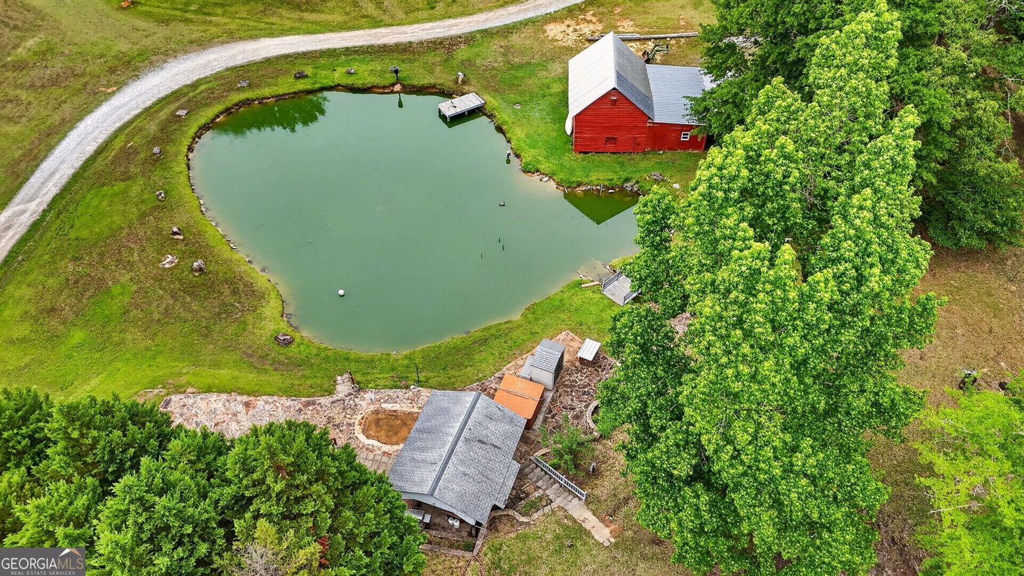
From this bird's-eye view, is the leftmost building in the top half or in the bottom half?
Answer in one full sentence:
The leftmost building sits in the bottom half of the picture.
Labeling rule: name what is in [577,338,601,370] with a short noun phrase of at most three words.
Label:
building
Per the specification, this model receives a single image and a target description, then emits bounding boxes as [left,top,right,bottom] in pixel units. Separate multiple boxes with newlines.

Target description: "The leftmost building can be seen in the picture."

[381,391,528,549]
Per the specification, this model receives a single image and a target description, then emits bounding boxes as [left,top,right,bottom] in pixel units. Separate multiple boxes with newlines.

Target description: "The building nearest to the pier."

[570,28,717,155]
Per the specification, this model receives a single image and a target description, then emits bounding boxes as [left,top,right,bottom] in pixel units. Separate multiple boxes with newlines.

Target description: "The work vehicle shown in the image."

[637,39,674,60]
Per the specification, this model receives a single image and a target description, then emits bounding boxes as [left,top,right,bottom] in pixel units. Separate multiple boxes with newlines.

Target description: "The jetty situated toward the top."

[438,92,485,124]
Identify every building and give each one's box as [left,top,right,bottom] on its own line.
[381,391,528,549]
[570,28,717,155]
[529,341,565,388]
[577,338,601,370]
